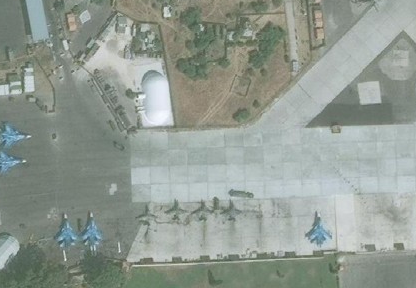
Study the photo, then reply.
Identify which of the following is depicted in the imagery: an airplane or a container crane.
airplane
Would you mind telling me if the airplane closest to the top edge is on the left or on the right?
left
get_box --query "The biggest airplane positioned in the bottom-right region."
[307,213,330,249]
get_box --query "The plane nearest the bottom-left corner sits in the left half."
[54,214,77,249]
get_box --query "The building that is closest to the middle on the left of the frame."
[134,72,171,124]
